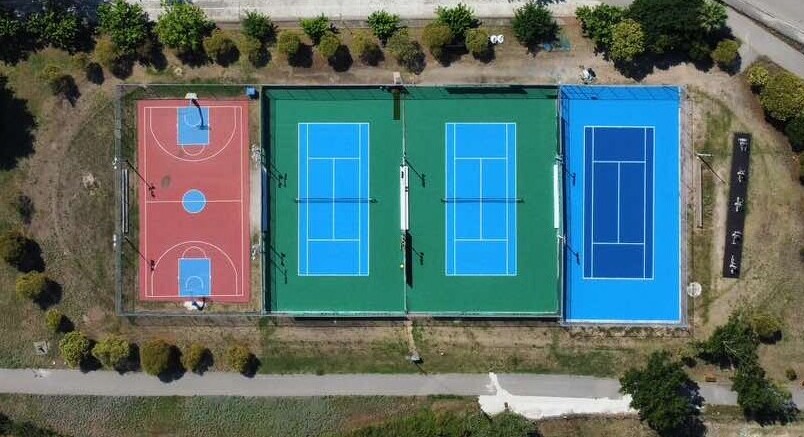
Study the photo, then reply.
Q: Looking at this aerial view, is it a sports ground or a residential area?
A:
sports ground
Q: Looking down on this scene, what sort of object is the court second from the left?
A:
tennis court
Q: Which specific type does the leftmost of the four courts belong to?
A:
basketball court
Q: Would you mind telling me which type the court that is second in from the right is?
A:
tennis court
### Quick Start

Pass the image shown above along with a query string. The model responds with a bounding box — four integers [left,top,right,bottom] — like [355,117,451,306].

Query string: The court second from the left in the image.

[264,88,405,312]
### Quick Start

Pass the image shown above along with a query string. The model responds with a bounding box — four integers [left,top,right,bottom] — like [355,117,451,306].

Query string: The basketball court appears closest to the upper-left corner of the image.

[137,98,250,301]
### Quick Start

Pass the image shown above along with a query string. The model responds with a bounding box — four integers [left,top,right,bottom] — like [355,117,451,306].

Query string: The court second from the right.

[405,88,558,312]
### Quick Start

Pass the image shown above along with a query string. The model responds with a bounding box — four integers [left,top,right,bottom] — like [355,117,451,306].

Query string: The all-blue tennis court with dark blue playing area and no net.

[561,88,681,321]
